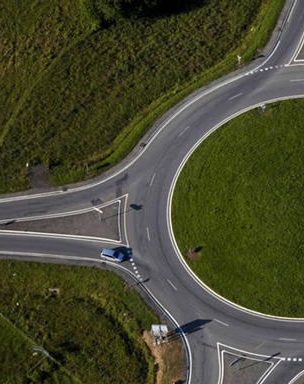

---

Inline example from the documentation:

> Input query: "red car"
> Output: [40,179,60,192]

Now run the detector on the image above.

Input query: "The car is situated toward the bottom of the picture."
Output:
[99,246,125,263]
